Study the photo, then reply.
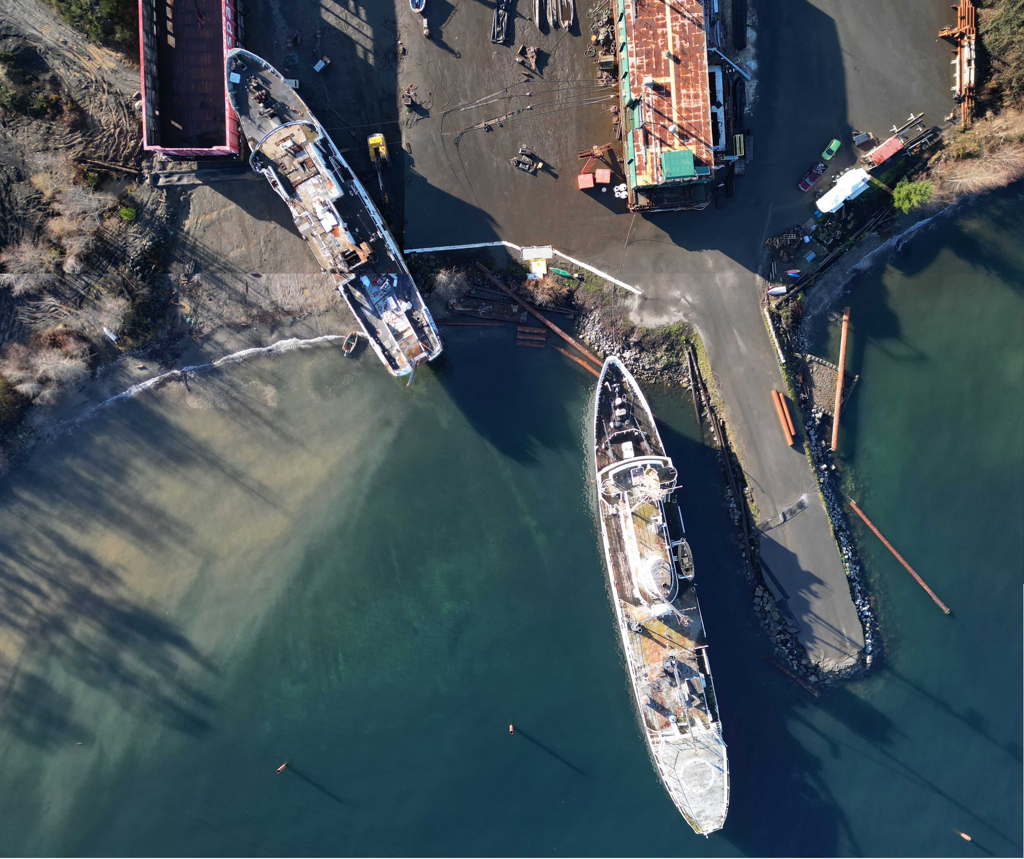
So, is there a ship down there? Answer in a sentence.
Yes, a ship can be made out from above.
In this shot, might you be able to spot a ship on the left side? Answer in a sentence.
Yes, a ship can be seen on the left side.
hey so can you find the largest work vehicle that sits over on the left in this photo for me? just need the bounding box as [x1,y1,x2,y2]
[367,133,393,206]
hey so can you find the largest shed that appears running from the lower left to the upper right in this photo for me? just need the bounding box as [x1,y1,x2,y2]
[860,136,904,170]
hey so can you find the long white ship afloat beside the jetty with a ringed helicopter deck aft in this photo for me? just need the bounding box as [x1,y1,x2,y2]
[593,355,730,839]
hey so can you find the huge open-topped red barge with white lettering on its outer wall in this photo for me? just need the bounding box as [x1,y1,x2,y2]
[137,0,256,173]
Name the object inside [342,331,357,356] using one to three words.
boat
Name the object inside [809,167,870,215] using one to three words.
camper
